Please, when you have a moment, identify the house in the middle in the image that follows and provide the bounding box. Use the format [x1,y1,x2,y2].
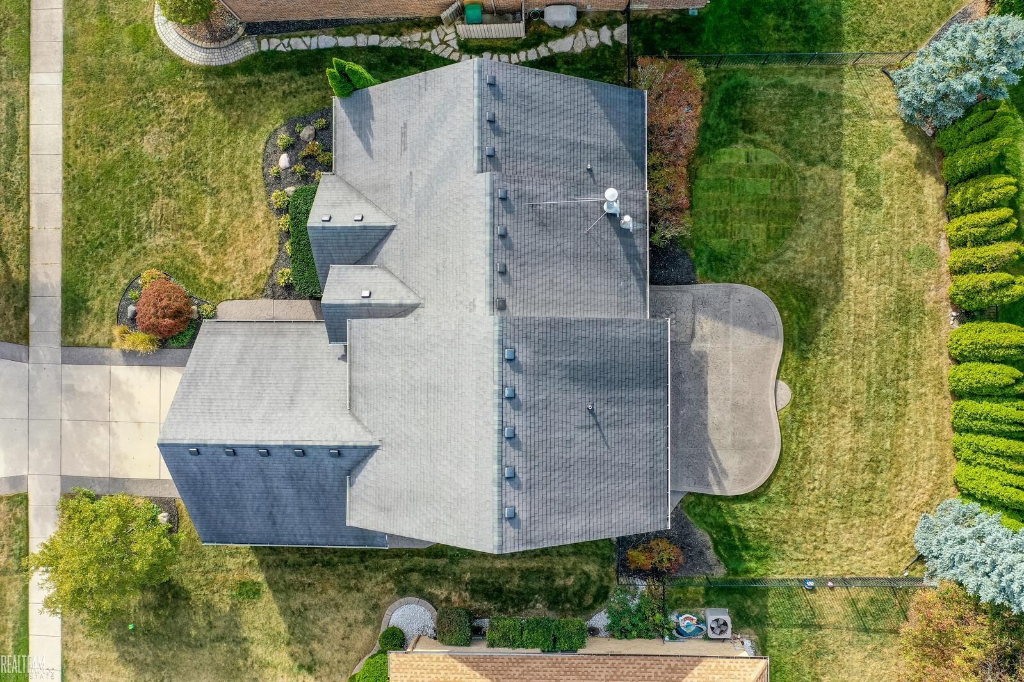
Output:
[159,60,674,558]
